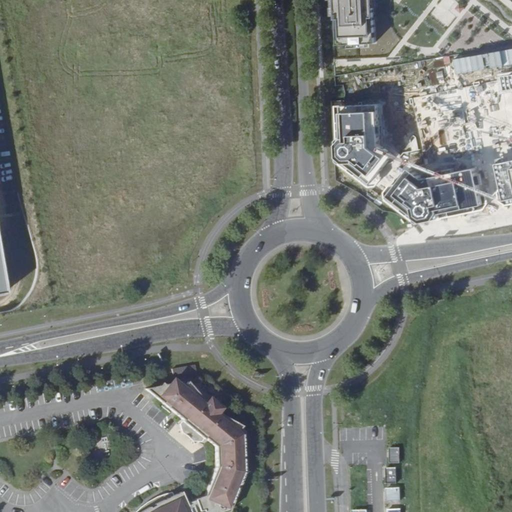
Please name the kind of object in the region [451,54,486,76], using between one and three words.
shed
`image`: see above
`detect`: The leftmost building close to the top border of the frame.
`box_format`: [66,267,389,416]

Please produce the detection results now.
[326,0,376,47]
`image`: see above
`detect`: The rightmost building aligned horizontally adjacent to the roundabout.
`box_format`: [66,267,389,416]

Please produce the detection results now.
[382,169,486,223]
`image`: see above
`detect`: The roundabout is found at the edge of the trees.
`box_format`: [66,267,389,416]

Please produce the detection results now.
[228,218,374,365]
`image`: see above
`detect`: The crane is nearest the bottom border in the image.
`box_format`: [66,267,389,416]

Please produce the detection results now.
[370,145,501,205]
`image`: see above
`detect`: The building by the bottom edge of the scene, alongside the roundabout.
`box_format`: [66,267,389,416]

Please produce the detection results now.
[146,378,248,508]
